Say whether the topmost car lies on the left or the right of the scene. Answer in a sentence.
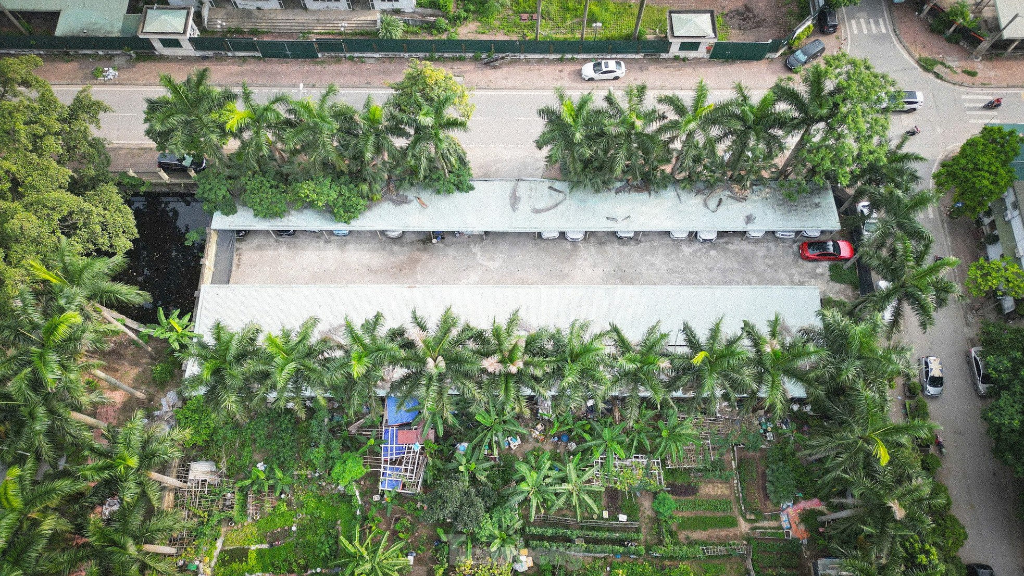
You can find the topmost car on the right side of the picture.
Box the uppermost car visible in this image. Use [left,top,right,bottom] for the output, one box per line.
[817,2,845,40]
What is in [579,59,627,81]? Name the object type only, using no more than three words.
car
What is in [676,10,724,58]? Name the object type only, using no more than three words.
building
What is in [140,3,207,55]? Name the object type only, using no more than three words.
building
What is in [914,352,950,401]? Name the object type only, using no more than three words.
car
